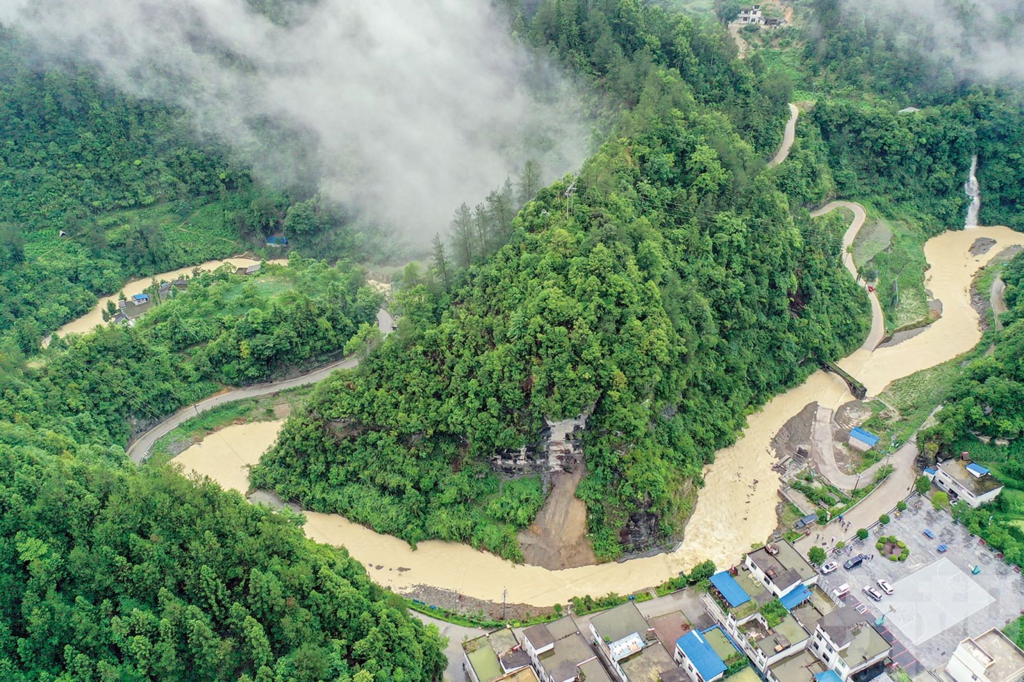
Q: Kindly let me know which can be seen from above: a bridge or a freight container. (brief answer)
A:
bridge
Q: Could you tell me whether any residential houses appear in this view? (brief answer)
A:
Yes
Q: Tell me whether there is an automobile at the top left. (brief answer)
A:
No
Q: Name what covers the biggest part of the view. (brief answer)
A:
trees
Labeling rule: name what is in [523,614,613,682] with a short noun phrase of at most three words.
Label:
house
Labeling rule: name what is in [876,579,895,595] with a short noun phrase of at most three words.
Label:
car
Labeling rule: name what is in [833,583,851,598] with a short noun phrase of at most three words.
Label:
vehicle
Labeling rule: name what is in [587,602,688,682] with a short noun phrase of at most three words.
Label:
house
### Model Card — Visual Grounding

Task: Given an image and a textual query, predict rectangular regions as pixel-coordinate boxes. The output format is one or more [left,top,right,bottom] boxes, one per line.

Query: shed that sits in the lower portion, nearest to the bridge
[847,427,881,451]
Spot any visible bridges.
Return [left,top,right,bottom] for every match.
[820,361,867,402]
